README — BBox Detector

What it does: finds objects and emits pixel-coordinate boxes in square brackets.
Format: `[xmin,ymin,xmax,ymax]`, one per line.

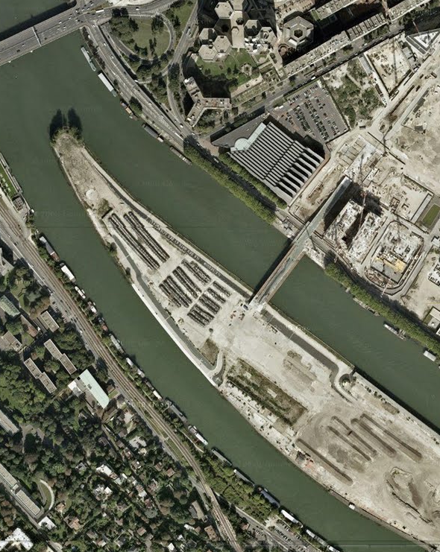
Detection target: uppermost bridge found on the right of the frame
[251,177,352,307]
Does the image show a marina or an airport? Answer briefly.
marina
